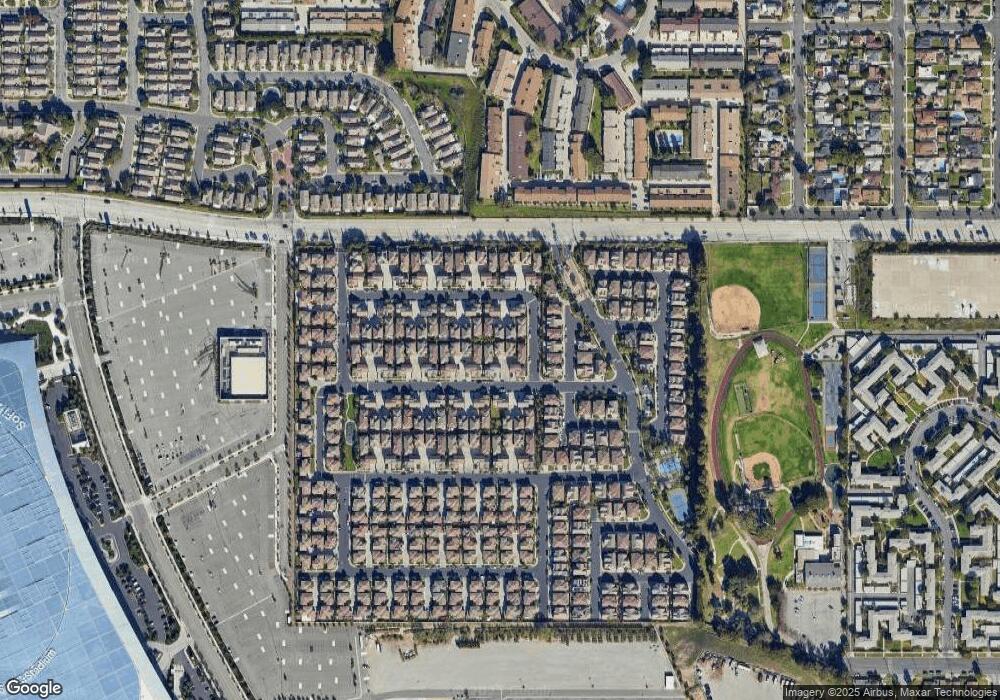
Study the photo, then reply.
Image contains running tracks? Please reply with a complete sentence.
Yes, a running track can be made out from above.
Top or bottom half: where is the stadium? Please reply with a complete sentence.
The bottom half of the photo is where the stadium is.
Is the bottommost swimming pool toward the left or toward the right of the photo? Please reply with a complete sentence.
The bottommost swimming pool appears in the right half of the scene.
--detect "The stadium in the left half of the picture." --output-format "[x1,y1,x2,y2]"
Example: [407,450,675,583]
[0,337,175,700]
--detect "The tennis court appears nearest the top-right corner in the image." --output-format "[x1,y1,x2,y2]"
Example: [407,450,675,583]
[809,247,827,283]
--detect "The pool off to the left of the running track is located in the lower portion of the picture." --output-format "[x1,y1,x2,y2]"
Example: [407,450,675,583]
[657,455,683,476]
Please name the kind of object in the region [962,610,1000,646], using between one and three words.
building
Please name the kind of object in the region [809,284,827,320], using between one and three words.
tennis court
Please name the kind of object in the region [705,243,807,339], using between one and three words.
baseball field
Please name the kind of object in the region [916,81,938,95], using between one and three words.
house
